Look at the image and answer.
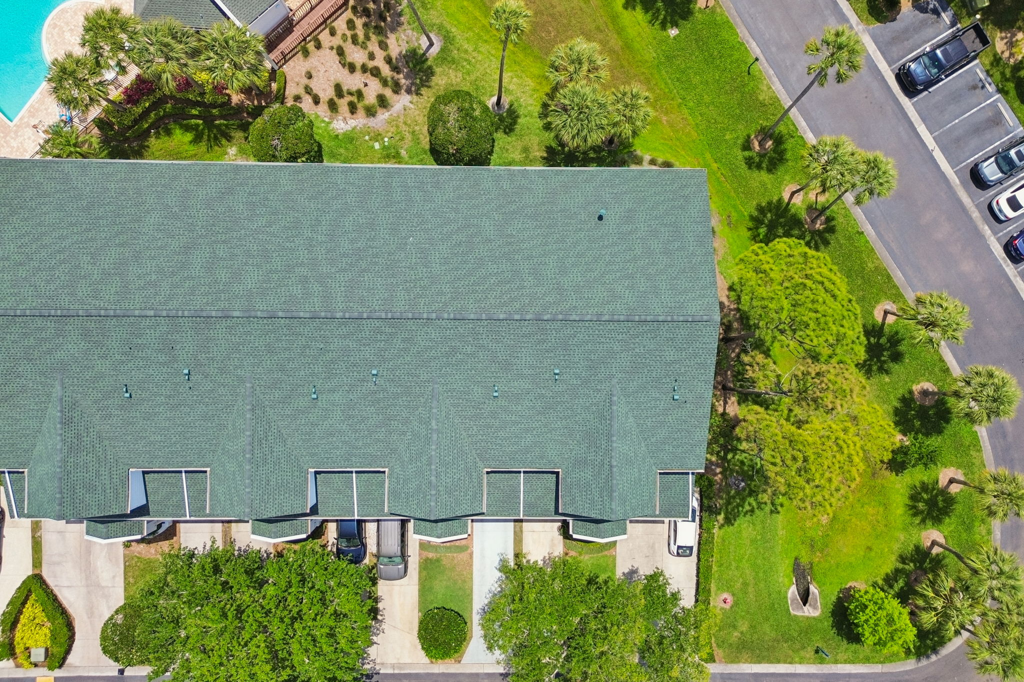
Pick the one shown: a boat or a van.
van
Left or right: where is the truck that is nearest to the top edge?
right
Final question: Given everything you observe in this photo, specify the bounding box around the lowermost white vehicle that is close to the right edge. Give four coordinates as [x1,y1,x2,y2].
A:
[990,182,1024,225]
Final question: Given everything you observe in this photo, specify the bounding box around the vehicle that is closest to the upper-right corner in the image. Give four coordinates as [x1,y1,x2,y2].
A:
[895,20,992,95]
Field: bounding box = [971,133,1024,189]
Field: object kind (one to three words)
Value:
car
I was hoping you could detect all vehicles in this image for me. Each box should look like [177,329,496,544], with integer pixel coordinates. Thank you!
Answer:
[971,133,1024,189]
[329,520,365,564]
[990,182,1024,225]
[373,520,410,580]
[895,20,992,95]
[668,493,704,558]
[1005,229,1024,263]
